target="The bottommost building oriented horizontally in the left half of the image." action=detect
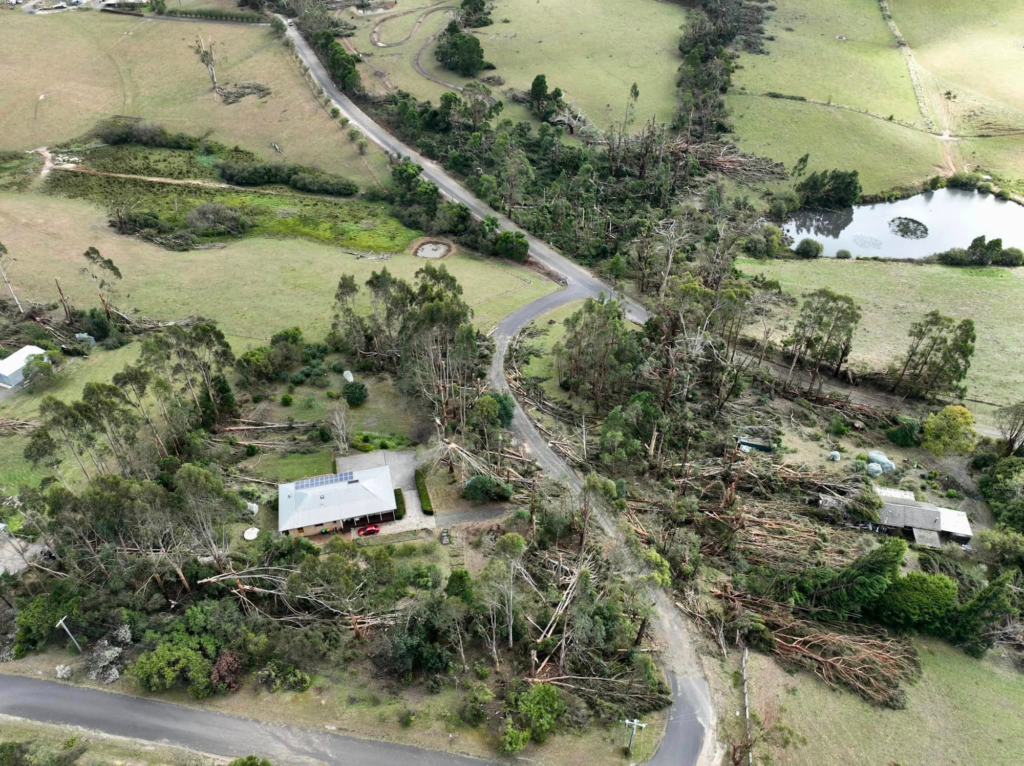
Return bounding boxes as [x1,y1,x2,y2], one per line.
[278,465,397,538]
